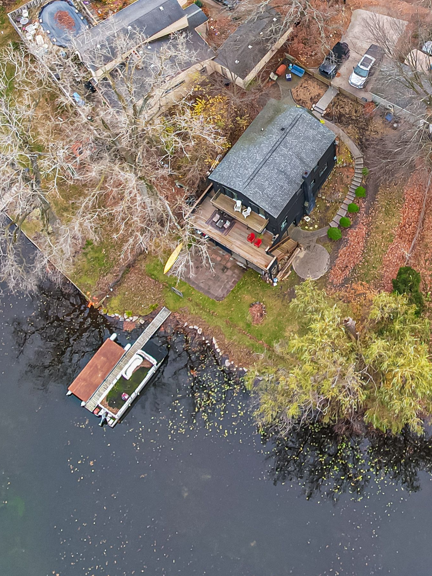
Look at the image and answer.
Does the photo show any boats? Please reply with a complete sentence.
Yes, looking at the shot, I can spot a boat.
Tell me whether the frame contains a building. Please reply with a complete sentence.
Yes, there's a building down there.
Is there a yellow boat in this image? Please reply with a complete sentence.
Yes, a yellow boat can be made out from above.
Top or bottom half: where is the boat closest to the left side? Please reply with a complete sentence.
It is in the bottom half that the boat closest to the left side appears.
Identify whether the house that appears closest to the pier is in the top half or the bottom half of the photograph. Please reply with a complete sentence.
The top half of the photo is where the house that appears closest to the pier is.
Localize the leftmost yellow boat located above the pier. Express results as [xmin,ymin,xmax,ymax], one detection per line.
[164,242,182,274]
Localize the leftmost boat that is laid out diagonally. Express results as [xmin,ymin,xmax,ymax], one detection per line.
[63,336,131,413]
